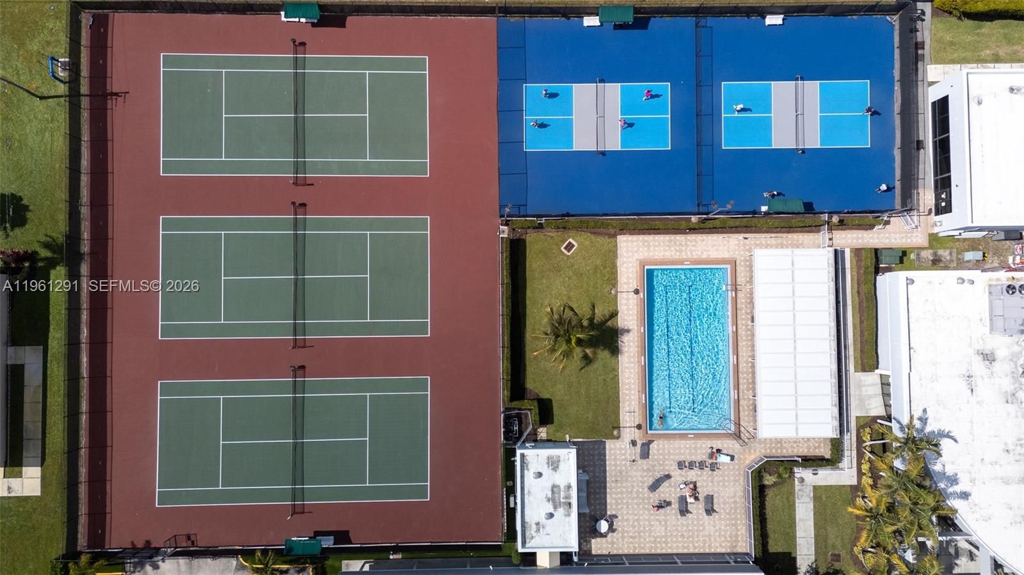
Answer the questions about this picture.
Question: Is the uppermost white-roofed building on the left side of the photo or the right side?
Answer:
right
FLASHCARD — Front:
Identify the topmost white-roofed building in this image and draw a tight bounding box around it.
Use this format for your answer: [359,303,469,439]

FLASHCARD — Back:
[930,70,1024,231]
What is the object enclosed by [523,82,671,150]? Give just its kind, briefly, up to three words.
sports court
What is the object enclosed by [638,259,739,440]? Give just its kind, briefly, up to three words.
swimming pool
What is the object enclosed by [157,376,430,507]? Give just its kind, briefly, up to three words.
tennis court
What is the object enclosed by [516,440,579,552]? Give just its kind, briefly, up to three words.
building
